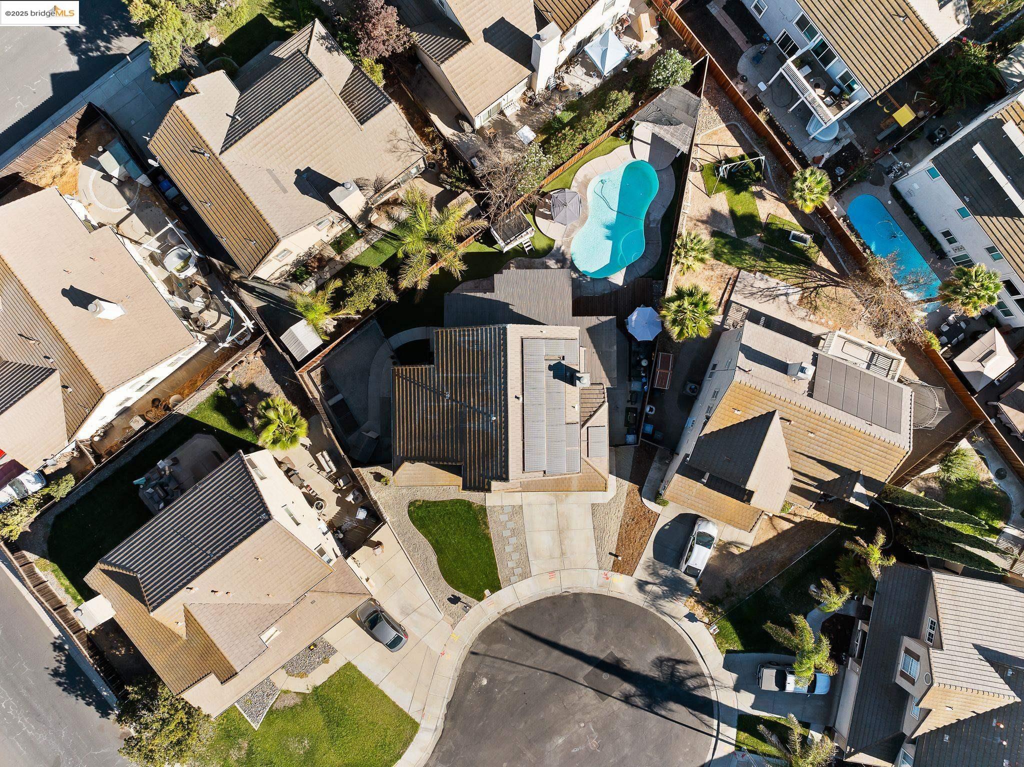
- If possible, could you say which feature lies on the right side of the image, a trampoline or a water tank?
trampoline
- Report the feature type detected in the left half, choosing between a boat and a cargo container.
boat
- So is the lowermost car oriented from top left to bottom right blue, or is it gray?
gray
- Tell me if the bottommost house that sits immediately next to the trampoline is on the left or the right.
right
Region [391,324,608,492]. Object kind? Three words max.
house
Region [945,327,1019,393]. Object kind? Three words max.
gazebo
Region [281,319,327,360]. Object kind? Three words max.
shed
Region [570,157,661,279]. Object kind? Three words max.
swimming pool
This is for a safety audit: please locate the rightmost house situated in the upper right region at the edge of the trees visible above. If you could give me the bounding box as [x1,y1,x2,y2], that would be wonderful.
[893,83,1024,320]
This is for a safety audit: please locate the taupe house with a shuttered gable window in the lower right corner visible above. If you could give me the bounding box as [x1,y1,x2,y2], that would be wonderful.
[838,558,1024,767]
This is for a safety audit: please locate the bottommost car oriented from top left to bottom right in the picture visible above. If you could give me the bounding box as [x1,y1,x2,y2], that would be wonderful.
[357,599,409,654]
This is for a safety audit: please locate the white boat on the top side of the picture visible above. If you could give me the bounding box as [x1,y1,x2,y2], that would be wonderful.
[167,246,199,278]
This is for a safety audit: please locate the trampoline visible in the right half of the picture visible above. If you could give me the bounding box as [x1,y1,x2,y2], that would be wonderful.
[896,378,953,436]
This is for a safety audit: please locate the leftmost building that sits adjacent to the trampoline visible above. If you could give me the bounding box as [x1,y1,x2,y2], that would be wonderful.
[662,320,914,533]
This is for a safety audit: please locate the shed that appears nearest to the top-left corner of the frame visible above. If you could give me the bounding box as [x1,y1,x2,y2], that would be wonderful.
[96,132,147,185]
